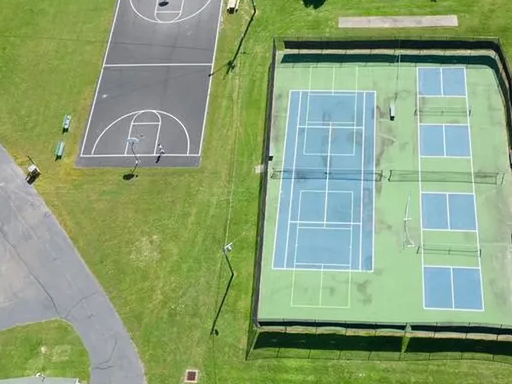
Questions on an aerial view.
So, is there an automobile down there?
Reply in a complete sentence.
No, this view has no automobile in it.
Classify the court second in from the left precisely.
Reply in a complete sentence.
Looking closely, the court second in from the left is a tennis court.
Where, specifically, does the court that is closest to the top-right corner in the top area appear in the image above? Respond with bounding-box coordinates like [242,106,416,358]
[417,67,472,157]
